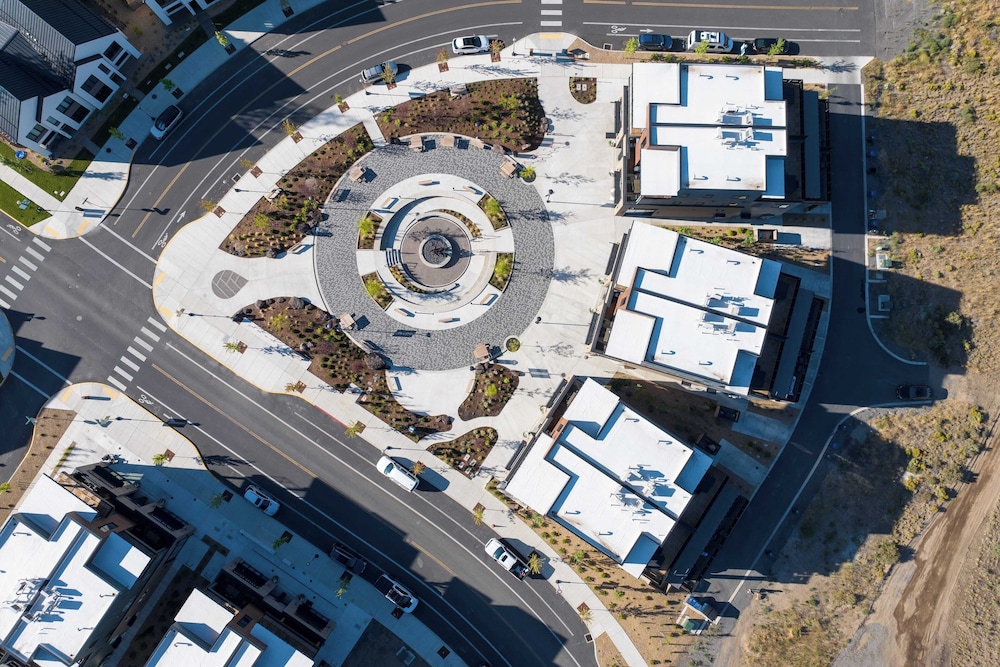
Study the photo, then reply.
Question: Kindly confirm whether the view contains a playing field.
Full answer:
No, this view has no playing field in it.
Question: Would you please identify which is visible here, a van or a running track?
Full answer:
I can see a van in this picture.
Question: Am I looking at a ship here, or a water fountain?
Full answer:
Of the two, only a water fountain appears.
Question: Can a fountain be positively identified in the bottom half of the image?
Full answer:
No, no fountain can be made out in the bottom half of the image.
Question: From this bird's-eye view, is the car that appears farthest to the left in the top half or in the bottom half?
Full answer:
You can find the car that appears farthest to the left in the top half.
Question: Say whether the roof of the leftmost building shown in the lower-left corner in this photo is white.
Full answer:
Yes, the roof of the leftmost building shown in the lower-left corner is white.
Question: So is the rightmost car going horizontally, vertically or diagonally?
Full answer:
In this picture, the rightmost car lies horizontally.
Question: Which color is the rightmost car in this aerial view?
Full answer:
The rightmost car looks black in the image.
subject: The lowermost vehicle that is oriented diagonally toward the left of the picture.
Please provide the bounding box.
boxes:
[371,569,422,617]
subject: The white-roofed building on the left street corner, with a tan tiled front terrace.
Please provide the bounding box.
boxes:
[0,461,199,667]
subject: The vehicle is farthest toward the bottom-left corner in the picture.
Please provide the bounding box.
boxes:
[240,482,280,517]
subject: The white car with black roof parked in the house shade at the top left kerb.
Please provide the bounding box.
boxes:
[150,104,186,140]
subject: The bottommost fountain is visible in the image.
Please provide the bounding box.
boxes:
[419,235,453,269]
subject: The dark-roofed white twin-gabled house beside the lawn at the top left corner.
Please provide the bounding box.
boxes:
[0,0,143,156]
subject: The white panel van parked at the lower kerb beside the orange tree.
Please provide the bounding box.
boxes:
[375,455,422,494]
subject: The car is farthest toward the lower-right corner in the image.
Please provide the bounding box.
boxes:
[894,383,935,402]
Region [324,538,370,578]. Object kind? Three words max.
truck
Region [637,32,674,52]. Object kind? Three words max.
car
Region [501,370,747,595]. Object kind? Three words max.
building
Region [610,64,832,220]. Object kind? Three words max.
building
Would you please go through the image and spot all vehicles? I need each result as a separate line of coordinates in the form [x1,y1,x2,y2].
[375,455,422,494]
[894,383,935,402]
[371,569,422,617]
[450,33,490,56]
[240,482,280,517]
[358,61,400,86]
[482,535,532,584]
[324,538,370,578]
[637,32,674,52]
[752,36,790,56]
[150,104,186,140]
[684,29,731,55]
